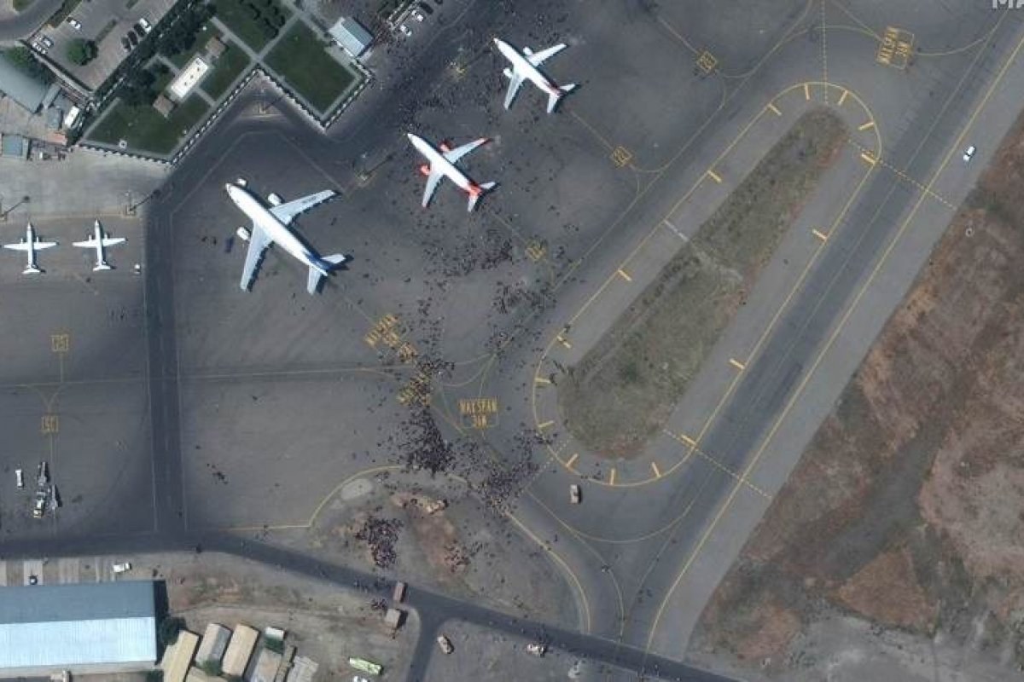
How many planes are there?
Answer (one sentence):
The picture shows 5 planes.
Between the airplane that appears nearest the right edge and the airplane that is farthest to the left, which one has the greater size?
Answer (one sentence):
It is the airplane that appears nearest the right edge that is larger, not the airplane that is farthest to the left.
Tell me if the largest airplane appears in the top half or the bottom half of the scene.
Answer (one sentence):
Seen from above, the largest airplane lies in the top half of the view.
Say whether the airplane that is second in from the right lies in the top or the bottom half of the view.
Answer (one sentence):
Seen from above, the airplane that is second in from the right lies in the top half of the view.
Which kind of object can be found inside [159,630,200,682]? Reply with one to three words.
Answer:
shed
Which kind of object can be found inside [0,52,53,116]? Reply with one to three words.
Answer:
building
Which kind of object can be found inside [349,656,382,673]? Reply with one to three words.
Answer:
vehicle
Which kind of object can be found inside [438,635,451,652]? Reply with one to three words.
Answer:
vehicle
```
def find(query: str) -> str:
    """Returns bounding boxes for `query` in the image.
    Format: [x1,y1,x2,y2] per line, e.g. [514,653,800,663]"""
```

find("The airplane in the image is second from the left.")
[72,220,125,269]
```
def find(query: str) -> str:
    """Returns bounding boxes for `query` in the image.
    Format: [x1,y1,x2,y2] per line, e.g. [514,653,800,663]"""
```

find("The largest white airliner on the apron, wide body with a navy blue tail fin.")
[226,184,346,293]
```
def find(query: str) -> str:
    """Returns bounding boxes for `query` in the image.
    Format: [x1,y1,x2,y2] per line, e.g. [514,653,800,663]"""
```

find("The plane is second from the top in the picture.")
[408,134,496,210]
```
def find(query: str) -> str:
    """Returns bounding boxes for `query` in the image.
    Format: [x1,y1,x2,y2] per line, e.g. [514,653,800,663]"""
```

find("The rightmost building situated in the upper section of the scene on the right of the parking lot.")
[330,15,373,60]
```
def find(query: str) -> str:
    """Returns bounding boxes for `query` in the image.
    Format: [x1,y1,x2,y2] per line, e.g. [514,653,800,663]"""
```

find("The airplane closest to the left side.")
[4,222,56,272]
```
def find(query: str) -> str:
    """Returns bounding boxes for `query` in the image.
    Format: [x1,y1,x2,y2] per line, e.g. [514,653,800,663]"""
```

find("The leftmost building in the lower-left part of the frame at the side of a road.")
[0,581,157,682]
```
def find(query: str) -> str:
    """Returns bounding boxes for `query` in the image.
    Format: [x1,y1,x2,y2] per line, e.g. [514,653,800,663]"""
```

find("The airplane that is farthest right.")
[494,38,576,112]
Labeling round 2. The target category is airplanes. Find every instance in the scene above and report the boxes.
[226,184,346,293]
[72,220,125,269]
[4,222,56,272]
[408,134,496,210]
[494,38,576,112]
